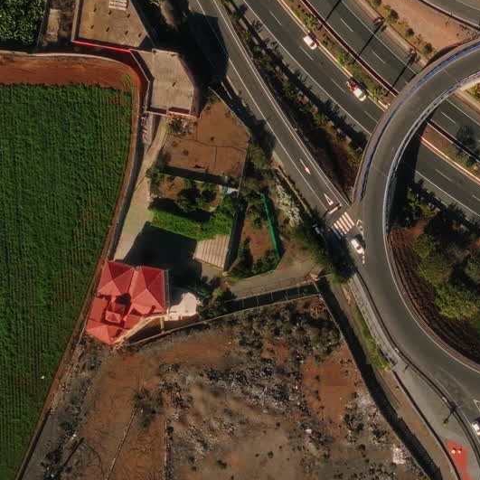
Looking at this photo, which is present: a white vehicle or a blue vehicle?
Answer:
white vehicle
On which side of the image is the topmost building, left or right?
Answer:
left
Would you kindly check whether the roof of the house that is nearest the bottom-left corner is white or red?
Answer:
red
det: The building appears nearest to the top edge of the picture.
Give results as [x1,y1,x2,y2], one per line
[71,0,160,53]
